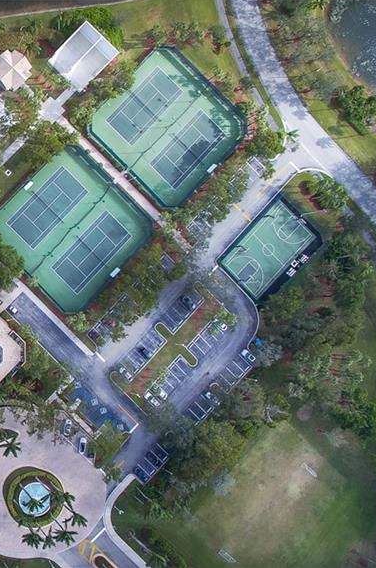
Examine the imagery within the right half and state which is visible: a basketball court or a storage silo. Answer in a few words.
basketball court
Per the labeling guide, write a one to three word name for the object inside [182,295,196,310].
car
